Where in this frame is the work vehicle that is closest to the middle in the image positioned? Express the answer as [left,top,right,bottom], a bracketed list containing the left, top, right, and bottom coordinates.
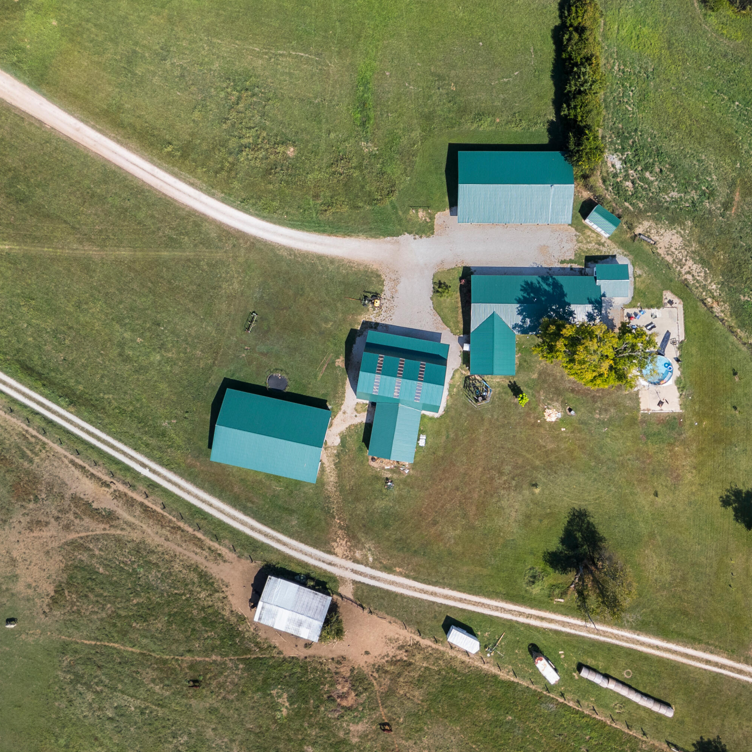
[345,296,383,308]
